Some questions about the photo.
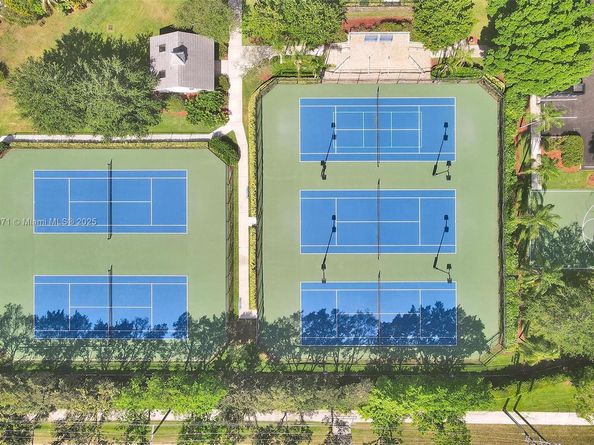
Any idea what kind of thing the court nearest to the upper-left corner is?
tennis court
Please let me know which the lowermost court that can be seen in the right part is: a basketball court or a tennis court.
tennis court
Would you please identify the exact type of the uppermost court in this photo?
tennis court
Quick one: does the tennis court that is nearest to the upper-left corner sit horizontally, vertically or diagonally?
horizontally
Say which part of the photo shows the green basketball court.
right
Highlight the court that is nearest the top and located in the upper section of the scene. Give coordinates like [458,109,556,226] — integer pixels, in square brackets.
[300,90,456,167]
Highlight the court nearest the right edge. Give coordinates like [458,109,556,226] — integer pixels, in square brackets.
[531,190,594,270]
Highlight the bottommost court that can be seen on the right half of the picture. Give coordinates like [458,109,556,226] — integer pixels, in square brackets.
[301,276,457,354]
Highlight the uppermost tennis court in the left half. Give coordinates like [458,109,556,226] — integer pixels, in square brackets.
[34,163,187,240]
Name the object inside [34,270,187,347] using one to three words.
tennis court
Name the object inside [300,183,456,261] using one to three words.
tennis court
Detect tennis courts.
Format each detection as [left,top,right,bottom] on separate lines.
[300,183,456,261]
[34,163,187,240]
[301,276,457,354]
[34,270,187,347]
[300,90,456,167]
